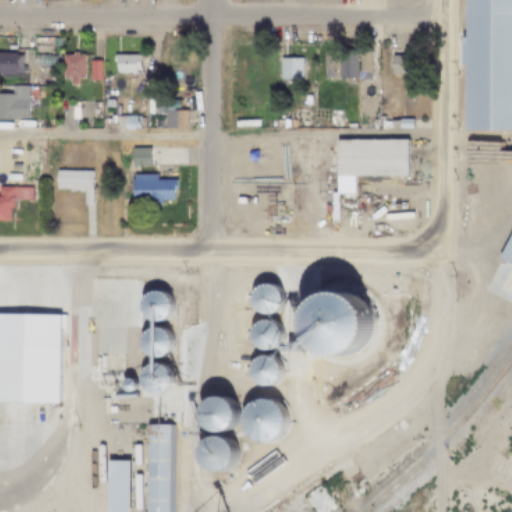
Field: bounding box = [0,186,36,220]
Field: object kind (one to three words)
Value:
house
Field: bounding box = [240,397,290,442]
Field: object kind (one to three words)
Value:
silo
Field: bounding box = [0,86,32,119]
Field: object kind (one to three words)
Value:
building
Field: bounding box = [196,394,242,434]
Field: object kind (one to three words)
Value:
silo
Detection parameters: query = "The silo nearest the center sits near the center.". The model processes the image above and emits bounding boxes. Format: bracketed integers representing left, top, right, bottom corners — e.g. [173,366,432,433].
[251,281,289,316]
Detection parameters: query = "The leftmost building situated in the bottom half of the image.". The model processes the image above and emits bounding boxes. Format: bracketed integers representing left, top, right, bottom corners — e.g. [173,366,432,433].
[0,314,66,403]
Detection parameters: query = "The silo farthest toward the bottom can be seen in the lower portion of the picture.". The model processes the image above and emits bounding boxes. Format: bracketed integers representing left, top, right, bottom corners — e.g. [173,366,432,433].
[195,433,241,473]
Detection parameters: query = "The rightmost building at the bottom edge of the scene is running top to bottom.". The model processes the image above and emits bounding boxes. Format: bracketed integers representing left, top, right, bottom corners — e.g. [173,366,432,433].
[150,424,178,512]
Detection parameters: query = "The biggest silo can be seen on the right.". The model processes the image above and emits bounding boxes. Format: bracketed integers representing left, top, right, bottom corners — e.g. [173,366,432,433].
[292,287,374,360]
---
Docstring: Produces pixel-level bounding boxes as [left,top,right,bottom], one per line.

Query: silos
[140,324,178,358]
[251,281,289,316]
[196,394,242,434]
[140,360,178,394]
[292,287,374,360]
[250,317,288,351]
[140,289,178,323]
[250,353,288,388]
[240,397,290,442]
[195,433,241,473]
